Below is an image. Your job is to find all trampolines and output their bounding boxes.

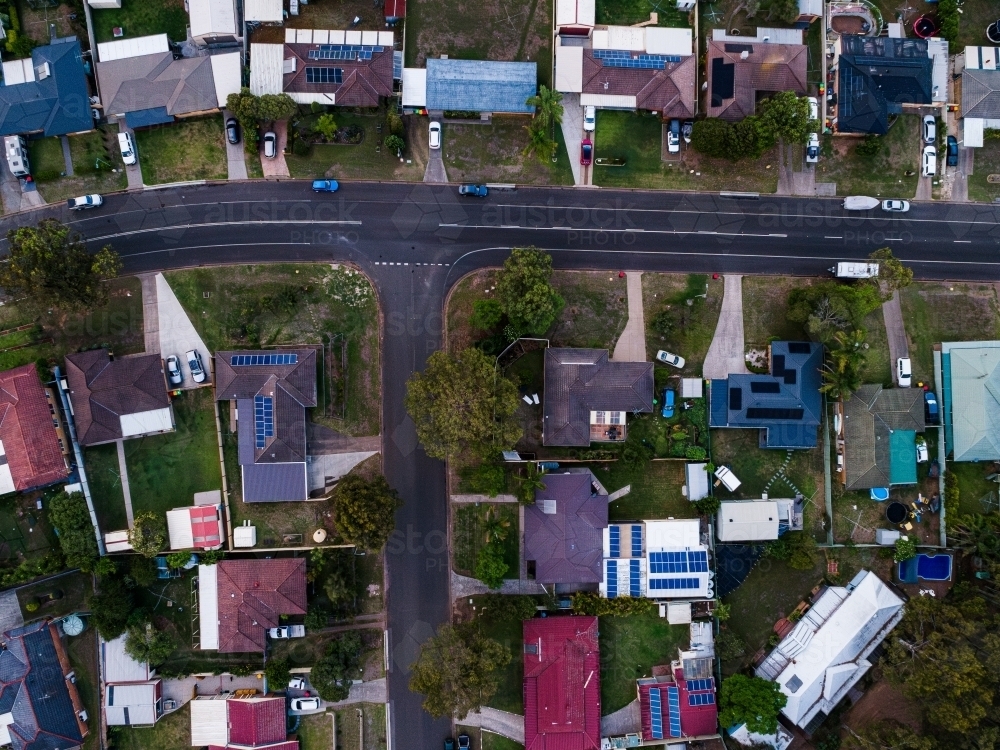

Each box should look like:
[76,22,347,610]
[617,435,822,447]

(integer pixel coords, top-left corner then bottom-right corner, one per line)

[885,502,907,523]
[912,14,935,37]
[986,18,1000,43]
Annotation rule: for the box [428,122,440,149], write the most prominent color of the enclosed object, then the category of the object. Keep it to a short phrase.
white vehicle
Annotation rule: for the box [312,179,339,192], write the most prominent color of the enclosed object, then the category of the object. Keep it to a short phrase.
blue vehicle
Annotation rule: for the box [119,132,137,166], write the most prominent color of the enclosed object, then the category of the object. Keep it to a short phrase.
white car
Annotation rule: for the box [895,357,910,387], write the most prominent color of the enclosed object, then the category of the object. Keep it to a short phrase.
white car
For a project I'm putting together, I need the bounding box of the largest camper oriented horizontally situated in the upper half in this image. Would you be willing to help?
[823,262,877,278]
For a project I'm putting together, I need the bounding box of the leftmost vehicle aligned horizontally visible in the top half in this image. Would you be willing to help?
[68,193,104,210]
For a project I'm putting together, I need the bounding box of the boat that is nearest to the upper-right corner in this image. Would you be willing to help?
[840,195,881,211]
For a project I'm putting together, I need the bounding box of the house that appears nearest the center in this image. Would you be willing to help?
[542,348,654,447]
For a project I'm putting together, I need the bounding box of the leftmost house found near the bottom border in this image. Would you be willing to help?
[0,619,90,750]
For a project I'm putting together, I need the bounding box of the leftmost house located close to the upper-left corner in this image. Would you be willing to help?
[0,35,99,141]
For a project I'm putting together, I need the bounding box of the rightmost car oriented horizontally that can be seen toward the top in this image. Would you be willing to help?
[881,199,909,212]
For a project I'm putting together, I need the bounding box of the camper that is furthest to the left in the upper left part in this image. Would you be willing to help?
[7,136,34,185]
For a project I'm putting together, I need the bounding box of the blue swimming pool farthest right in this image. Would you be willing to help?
[918,553,952,581]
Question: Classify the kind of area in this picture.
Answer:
residential area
